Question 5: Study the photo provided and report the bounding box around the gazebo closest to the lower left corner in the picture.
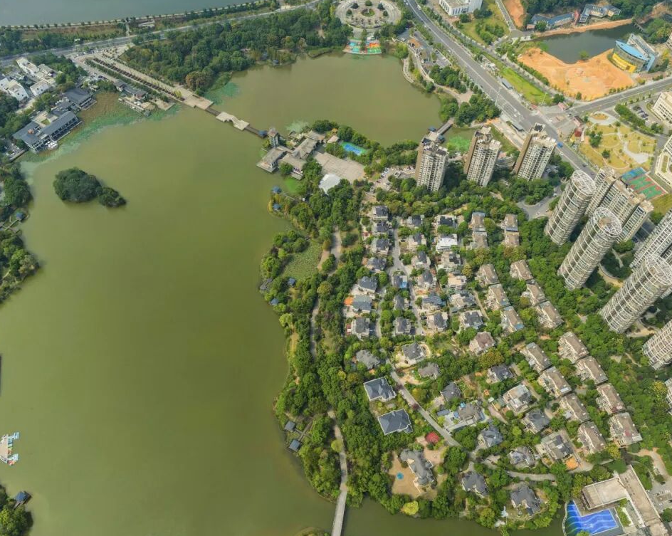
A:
[14,489,34,506]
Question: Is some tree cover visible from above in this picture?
Yes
